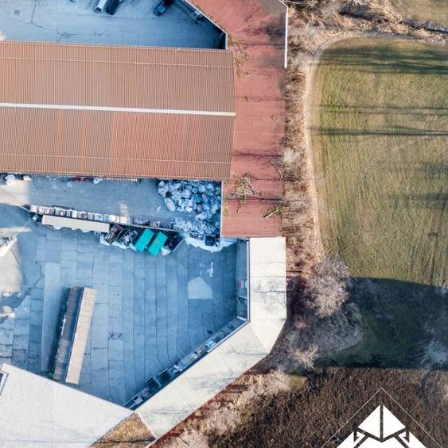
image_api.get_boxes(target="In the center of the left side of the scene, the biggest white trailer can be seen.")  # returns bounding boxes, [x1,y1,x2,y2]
[40,215,112,233]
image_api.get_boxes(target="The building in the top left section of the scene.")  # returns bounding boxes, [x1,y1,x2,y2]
[0,40,236,182]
